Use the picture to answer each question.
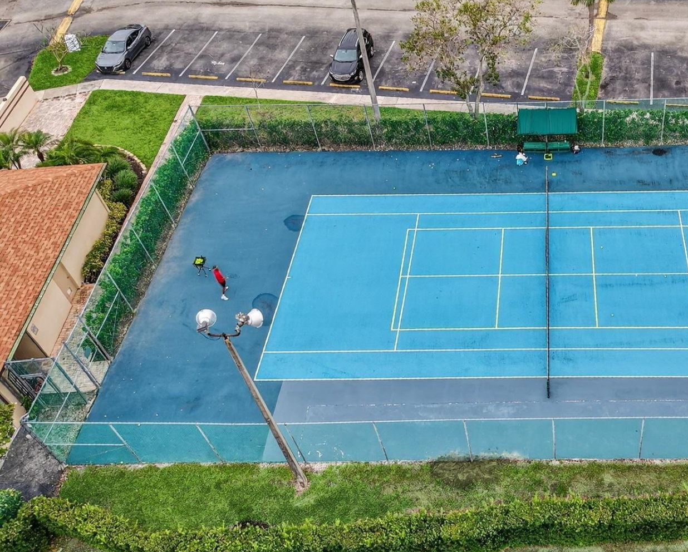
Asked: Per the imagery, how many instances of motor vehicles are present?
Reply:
two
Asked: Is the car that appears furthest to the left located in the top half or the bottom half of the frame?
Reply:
top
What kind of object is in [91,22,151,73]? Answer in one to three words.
car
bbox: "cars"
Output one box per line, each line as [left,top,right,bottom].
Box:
[326,26,374,86]
[91,22,151,73]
